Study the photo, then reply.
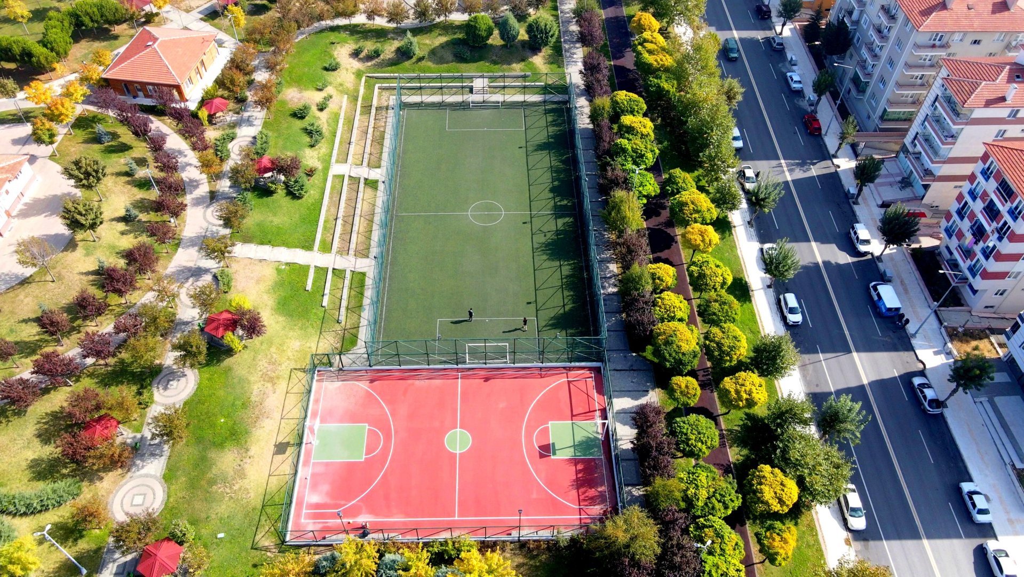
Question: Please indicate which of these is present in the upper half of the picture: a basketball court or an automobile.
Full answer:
Looking in the upper half of the picture, you will find an automobile.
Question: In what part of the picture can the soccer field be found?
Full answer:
The soccer field is located in the center region of the scene.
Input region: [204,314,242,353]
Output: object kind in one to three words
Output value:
gazebo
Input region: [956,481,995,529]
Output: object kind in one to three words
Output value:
car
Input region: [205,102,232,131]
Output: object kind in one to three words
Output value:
gazebo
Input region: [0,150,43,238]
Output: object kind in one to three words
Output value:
building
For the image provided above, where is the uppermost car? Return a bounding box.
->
[755,2,773,20]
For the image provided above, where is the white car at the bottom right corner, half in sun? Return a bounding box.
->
[979,535,1023,577]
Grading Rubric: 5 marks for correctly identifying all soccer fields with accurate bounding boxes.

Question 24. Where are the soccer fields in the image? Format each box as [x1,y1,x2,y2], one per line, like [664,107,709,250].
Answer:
[368,102,603,366]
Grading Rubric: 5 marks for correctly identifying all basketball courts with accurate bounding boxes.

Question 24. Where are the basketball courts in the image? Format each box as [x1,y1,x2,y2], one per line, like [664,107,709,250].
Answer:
[282,363,624,545]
